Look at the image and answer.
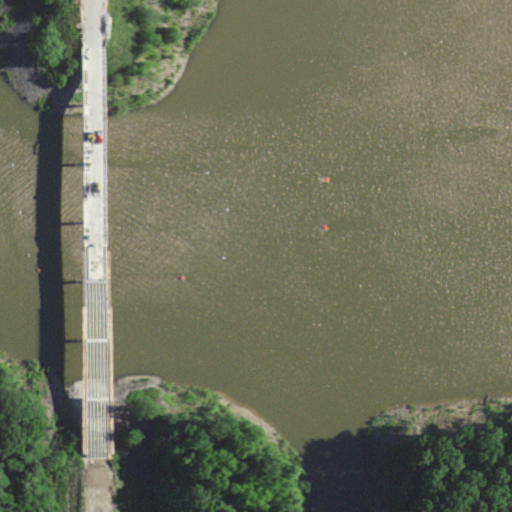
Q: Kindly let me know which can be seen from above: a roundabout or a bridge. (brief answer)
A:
bridge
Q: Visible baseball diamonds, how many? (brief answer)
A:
0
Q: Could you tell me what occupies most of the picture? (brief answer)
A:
water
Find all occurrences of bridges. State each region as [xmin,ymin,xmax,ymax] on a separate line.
[82,44,113,470]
